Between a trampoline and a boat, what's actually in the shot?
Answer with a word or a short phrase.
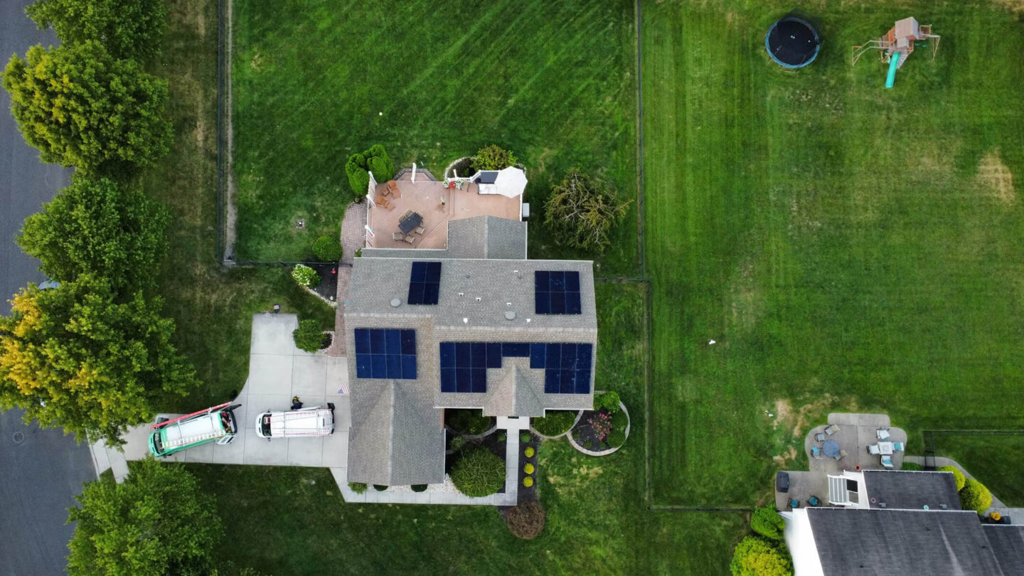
trampoline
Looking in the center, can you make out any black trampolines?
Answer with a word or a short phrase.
No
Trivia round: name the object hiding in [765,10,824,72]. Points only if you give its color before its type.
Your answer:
black trampoline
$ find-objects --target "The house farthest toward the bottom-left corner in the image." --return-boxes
[343,215,598,486]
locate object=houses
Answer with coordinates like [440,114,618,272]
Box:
[783,468,1024,576]
[343,215,598,486]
